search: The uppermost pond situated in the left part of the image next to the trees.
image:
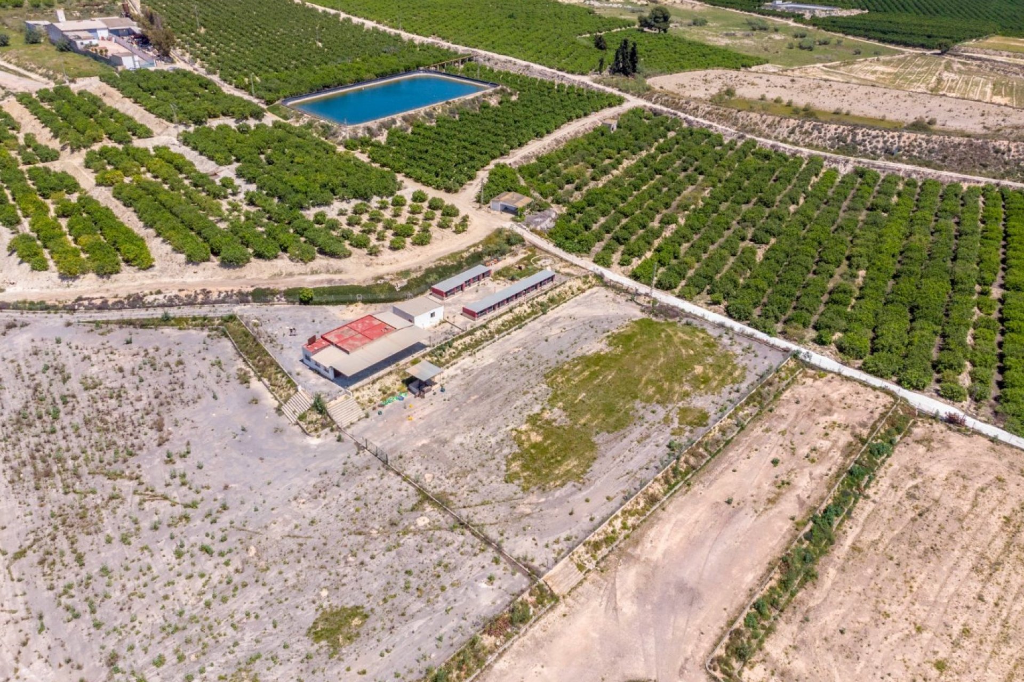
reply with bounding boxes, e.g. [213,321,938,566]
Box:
[283,69,497,126]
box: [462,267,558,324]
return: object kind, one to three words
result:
shed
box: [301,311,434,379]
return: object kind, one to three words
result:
building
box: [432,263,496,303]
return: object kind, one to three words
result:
shed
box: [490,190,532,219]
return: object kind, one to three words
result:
building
